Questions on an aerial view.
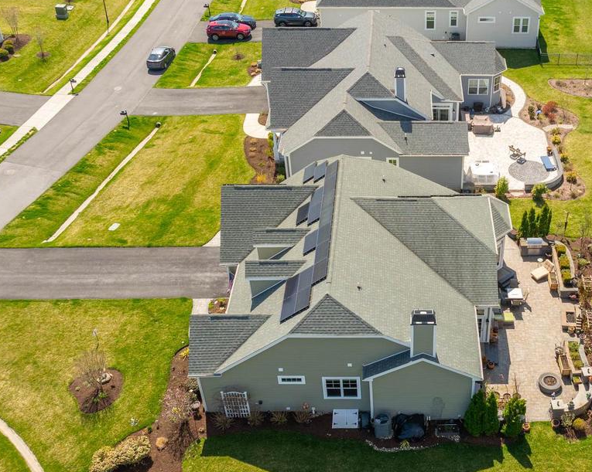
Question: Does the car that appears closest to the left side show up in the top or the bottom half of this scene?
top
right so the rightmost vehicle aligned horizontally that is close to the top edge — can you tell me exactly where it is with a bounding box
[271,5,319,27]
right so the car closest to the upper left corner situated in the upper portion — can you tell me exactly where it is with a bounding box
[140,46,177,72]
